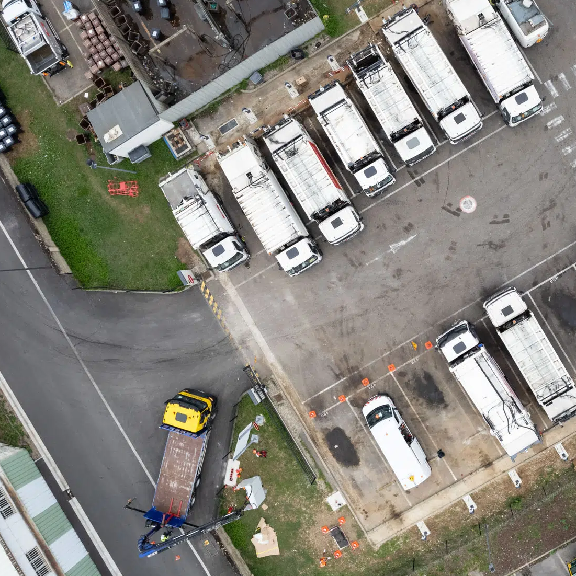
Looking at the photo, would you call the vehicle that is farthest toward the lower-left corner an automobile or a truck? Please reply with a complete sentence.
What you see as the vehicle that is farthest toward the lower-left corner is a truck.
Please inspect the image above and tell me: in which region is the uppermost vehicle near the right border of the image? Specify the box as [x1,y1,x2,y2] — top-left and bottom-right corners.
[492,0,549,56]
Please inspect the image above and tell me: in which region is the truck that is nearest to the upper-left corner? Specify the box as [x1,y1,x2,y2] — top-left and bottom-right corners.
[0,0,77,88]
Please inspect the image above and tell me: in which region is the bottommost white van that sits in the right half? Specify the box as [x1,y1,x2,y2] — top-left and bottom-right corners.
[365,393,431,486]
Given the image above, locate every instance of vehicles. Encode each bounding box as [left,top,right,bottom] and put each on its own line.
[0,0,77,88]
[260,109,368,247]
[214,138,324,276]
[492,0,549,56]
[439,0,546,128]
[346,41,442,171]
[365,393,431,486]
[158,164,251,273]
[304,74,400,197]
[379,2,487,146]
[122,388,254,559]
[478,283,576,427]
[433,322,541,459]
